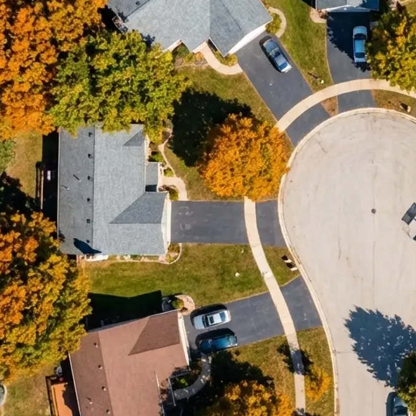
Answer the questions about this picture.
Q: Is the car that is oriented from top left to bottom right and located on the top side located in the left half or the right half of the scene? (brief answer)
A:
right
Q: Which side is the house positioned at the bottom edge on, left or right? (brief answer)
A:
left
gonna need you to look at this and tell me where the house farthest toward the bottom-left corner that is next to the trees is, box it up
[66,308,196,416]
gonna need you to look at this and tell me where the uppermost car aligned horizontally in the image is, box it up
[190,304,234,329]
